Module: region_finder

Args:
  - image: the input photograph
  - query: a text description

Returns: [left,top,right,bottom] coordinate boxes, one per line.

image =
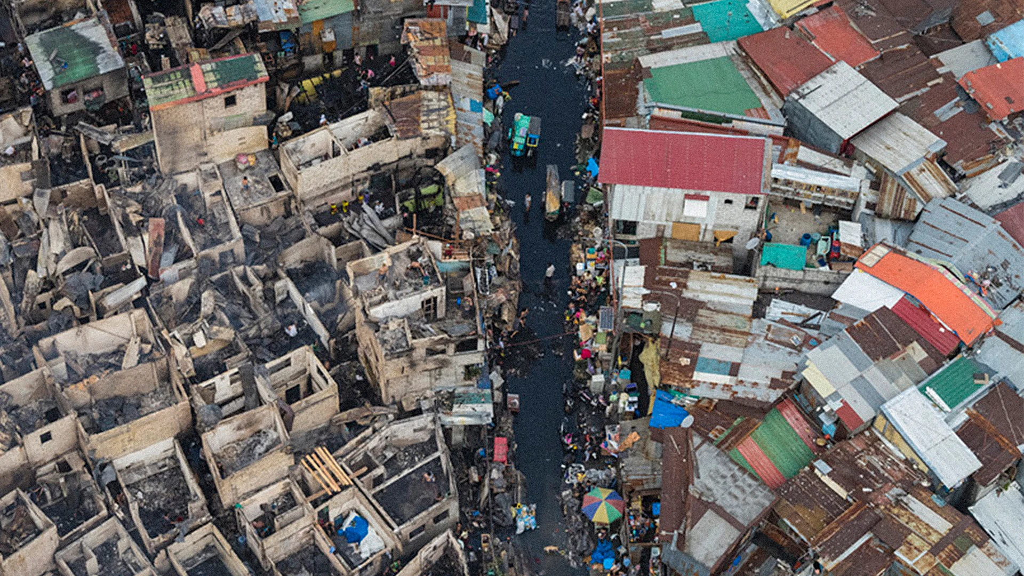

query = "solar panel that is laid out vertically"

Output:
[597,306,615,346]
